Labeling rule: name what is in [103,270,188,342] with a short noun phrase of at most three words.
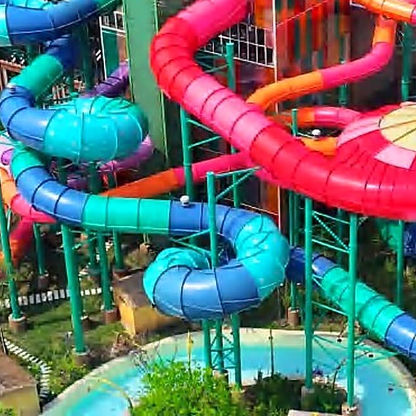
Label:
shed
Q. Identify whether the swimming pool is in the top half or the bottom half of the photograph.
bottom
